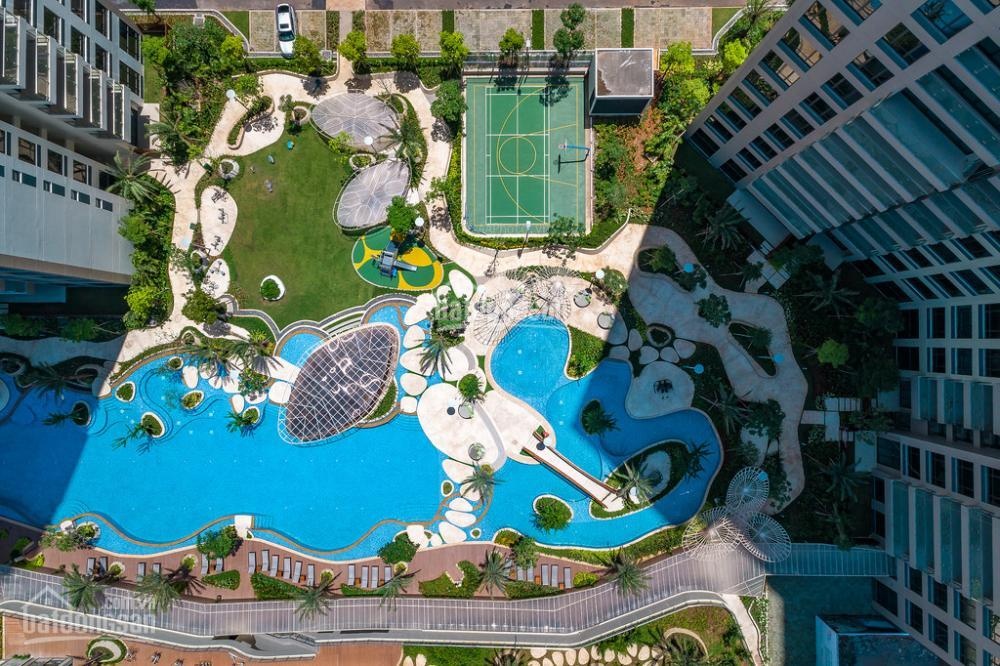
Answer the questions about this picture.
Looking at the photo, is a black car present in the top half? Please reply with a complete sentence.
No, there is no black car in the top half.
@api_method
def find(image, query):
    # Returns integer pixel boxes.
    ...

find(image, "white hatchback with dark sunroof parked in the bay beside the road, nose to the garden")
[275,5,301,59]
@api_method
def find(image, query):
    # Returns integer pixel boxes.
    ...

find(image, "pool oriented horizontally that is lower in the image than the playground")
[0,297,724,563]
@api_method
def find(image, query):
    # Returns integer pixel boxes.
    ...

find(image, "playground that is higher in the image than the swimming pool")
[351,225,445,291]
